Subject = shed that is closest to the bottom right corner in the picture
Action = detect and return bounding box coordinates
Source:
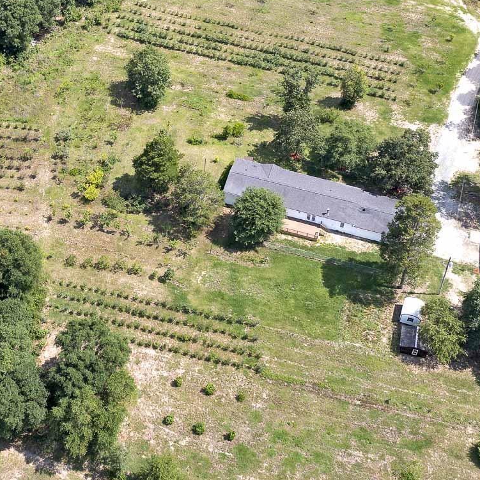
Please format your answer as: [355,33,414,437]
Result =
[399,325,428,357]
